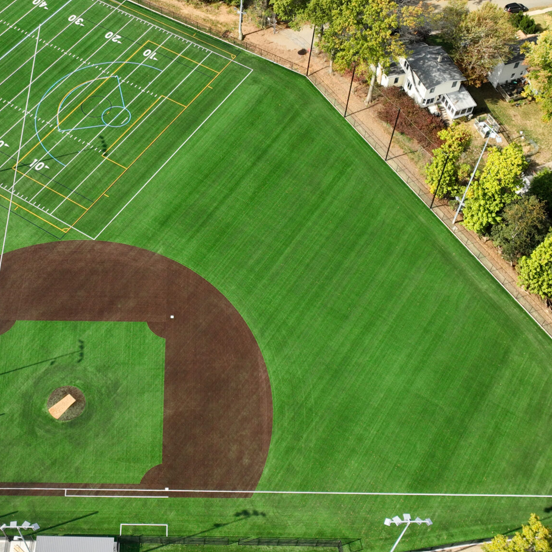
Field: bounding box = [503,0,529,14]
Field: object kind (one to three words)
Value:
car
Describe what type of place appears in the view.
sports ground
